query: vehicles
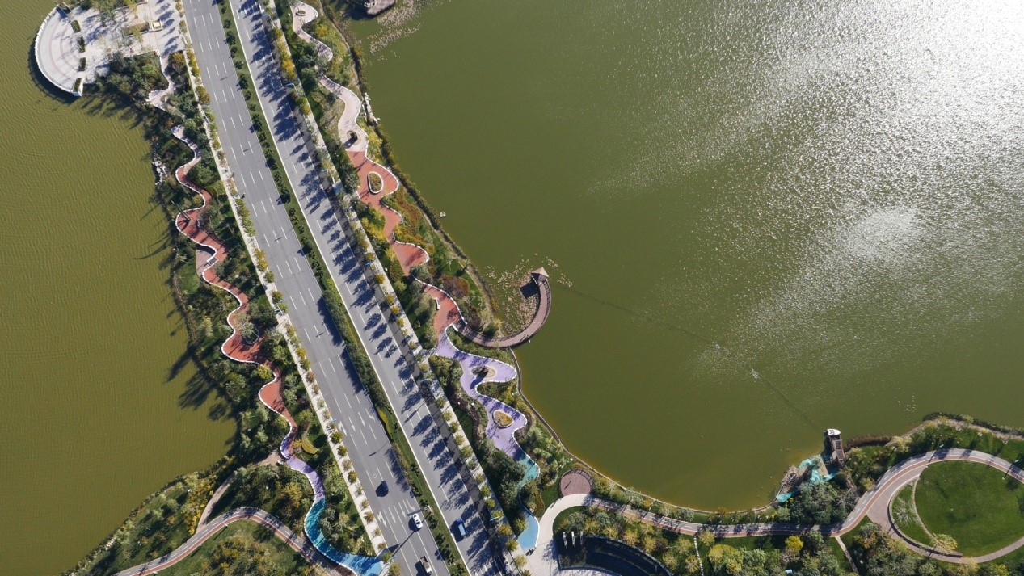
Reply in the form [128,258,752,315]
[379,478,390,493]
[420,554,433,574]
[413,514,423,529]
[455,518,467,536]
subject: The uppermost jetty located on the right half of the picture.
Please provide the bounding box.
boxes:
[827,434,846,463]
